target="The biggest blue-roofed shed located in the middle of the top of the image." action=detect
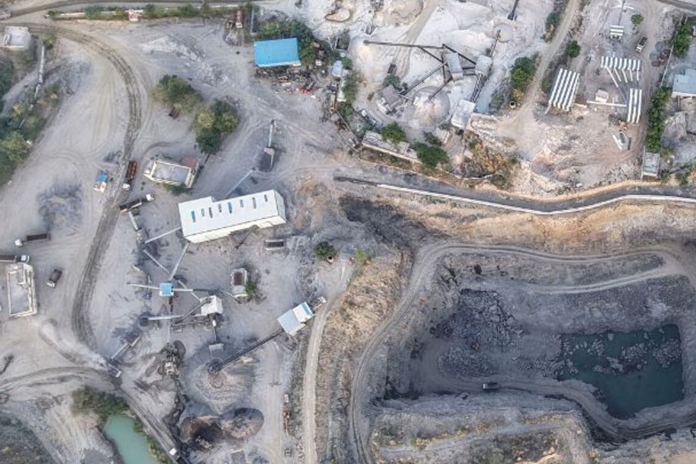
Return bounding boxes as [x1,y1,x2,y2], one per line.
[255,38,304,73]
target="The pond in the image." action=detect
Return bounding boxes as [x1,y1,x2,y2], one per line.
[103,414,155,464]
